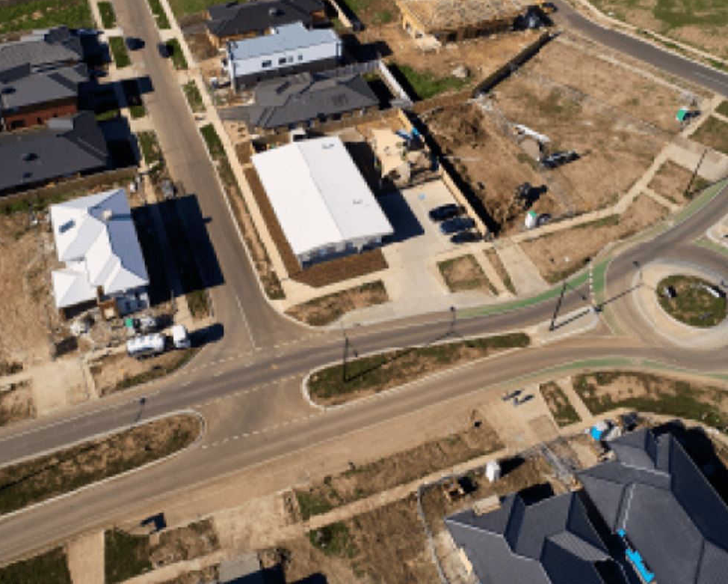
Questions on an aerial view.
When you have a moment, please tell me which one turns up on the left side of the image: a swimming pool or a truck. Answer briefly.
truck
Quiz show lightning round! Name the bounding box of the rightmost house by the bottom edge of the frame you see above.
[575,431,728,584]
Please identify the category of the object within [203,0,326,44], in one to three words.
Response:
house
